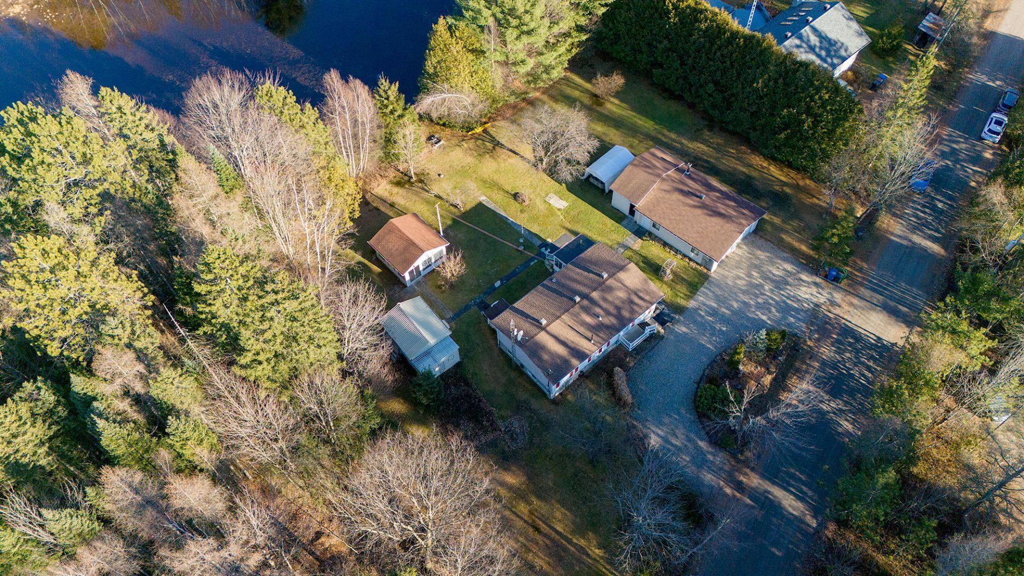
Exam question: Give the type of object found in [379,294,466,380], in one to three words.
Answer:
shed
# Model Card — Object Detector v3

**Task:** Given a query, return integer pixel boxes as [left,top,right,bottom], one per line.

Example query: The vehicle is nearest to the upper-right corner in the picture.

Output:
[996,81,1024,112]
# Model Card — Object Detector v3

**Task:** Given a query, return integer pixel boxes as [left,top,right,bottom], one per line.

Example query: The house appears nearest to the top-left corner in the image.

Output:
[369,212,449,287]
